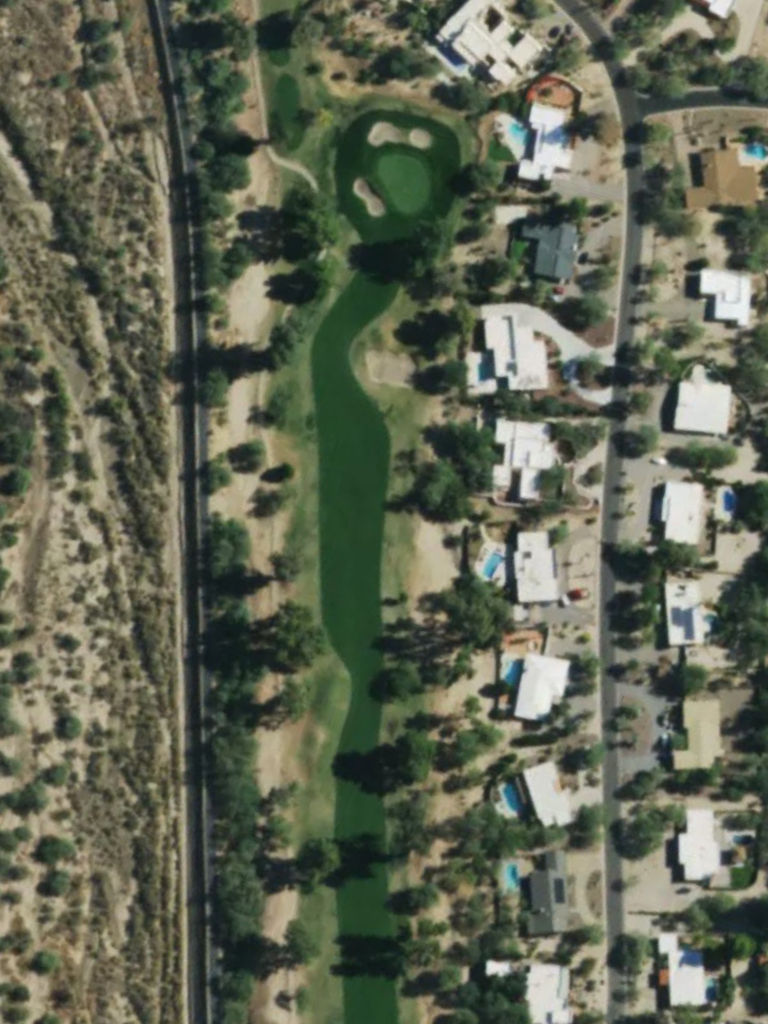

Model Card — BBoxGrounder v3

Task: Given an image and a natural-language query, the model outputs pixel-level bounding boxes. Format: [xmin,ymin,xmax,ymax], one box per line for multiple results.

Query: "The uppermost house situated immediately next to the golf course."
[436,0,542,85]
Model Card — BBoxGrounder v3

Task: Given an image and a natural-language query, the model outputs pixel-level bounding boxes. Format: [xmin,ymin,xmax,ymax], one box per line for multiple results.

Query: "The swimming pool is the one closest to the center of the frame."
[482,552,504,579]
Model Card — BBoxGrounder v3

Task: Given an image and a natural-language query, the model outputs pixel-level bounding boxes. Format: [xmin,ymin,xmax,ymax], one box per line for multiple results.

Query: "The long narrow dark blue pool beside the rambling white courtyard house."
[439,45,467,70]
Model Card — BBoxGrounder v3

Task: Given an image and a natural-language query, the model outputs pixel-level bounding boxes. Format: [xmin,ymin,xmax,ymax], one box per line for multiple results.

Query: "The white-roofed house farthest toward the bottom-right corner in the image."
[659,933,705,1006]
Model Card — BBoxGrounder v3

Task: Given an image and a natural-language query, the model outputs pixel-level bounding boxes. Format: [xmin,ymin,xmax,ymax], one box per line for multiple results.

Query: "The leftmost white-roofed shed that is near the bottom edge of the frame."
[486,960,510,977]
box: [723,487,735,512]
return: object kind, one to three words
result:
swimming pool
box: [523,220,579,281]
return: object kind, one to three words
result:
house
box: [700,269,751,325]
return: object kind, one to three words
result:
house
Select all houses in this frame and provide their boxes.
[526,965,574,1024]
[678,809,720,881]
[518,103,575,180]
[436,0,542,85]
[514,653,571,721]
[666,581,708,645]
[515,532,559,602]
[485,314,549,390]
[700,269,751,325]
[686,146,759,209]
[659,933,705,1006]
[696,0,735,18]
[492,419,556,499]
[524,762,573,827]
[523,220,579,281]
[674,698,723,770]
[527,851,570,937]
[674,363,731,434]
[663,481,704,545]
